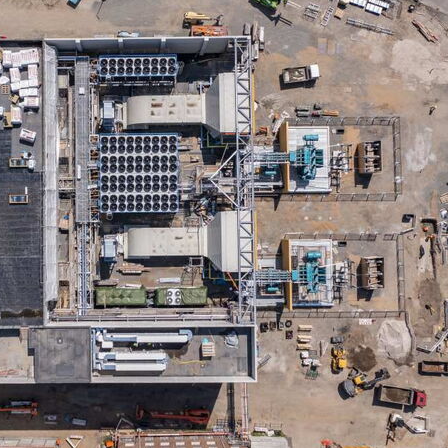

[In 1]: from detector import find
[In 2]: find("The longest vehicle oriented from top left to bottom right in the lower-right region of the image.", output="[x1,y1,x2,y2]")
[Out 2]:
[385,408,421,435]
